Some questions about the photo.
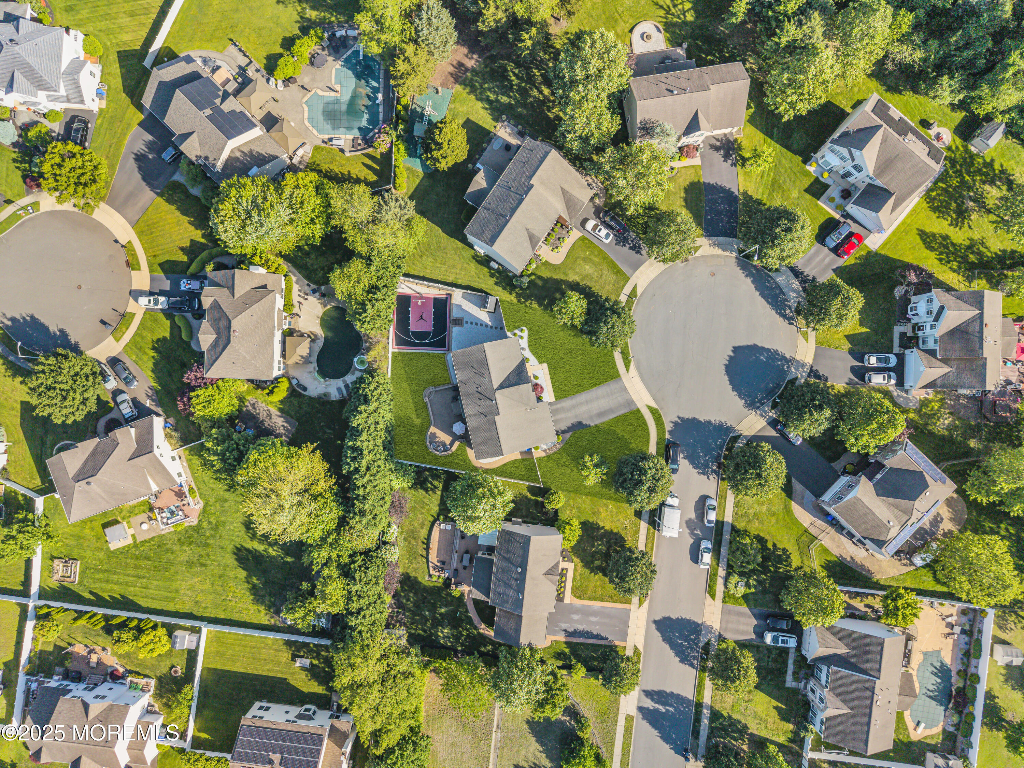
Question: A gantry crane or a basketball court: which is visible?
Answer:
basketball court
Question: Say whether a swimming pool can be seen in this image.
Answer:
Yes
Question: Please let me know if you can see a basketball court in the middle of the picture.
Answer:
Yes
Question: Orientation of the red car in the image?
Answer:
diagonally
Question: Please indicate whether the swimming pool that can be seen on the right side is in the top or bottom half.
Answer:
bottom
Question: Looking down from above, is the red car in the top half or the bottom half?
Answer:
top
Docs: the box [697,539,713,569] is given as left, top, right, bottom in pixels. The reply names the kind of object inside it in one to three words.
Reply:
car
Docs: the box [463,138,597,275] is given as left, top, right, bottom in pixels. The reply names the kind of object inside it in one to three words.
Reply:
house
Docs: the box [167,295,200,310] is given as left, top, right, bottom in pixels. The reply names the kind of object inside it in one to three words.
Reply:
vehicle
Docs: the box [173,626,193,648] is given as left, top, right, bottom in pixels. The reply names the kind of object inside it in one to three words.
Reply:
shed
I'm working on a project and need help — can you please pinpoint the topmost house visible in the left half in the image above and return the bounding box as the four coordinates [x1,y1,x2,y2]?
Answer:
[0,3,101,113]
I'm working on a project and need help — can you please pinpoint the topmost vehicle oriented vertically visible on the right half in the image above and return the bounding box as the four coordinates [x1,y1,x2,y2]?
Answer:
[667,443,683,474]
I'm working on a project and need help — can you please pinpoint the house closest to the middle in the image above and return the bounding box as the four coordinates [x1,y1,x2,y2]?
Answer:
[450,337,558,460]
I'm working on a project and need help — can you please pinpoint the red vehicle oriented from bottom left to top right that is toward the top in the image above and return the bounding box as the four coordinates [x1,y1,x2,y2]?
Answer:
[836,233,864,260]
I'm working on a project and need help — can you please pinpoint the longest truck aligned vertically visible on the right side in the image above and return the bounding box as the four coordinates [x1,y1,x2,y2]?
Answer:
[663,493,685,542]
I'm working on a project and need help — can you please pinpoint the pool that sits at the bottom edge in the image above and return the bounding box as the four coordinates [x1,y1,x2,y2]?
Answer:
[907,647,956,732]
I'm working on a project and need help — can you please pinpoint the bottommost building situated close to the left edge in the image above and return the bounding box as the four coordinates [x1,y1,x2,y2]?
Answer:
[20,680,162,768]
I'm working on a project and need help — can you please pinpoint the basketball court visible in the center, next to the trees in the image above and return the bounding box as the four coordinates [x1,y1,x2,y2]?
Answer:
[393,293,450,350]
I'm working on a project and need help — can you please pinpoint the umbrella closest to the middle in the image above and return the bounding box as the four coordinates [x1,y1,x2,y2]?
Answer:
[453,421,466,435]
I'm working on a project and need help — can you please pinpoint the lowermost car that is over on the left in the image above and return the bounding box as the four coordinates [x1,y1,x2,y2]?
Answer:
[115,392,139,422]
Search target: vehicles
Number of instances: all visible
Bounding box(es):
[765,614,792,631]
[864,353,897,367]
[159,141,185,164]
[764,631,798,648]
[663,493,685,542]
[115,392,139,422]
[697,539,713,569]
[774,424,803,447]
[70,118,90,147]
[703,497,719,527]
[864,371,896,386]
[112,360,139,390]
[167,295,200,310]
[95,359,120,391]
[583,219,615,243]
[177,277,208,292]
[823,219,853,250]
[137,295,167,309]
[667,443,683,474]
[836,233,864,260]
